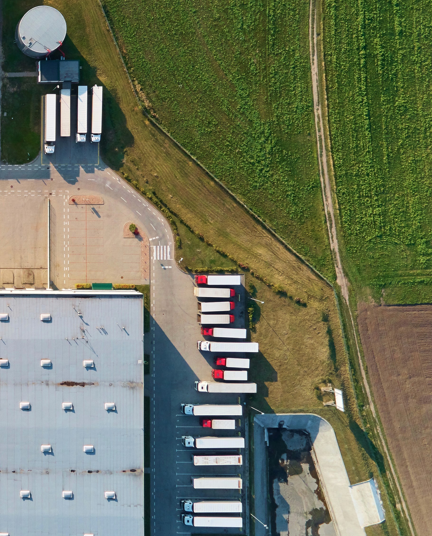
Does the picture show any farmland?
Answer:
Yes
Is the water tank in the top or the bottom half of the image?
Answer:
top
